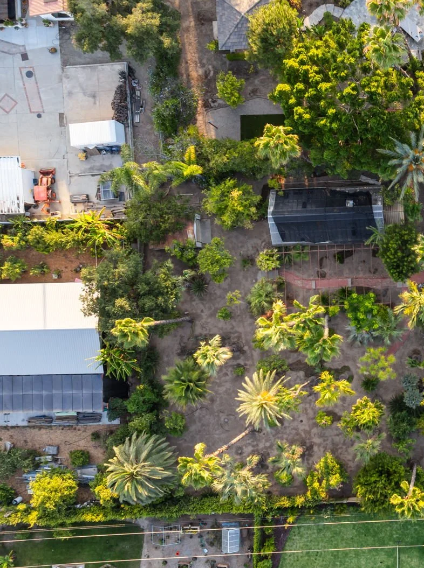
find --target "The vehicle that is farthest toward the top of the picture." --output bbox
[31,169,57,219]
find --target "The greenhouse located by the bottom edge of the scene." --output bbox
[222,526,242,554]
